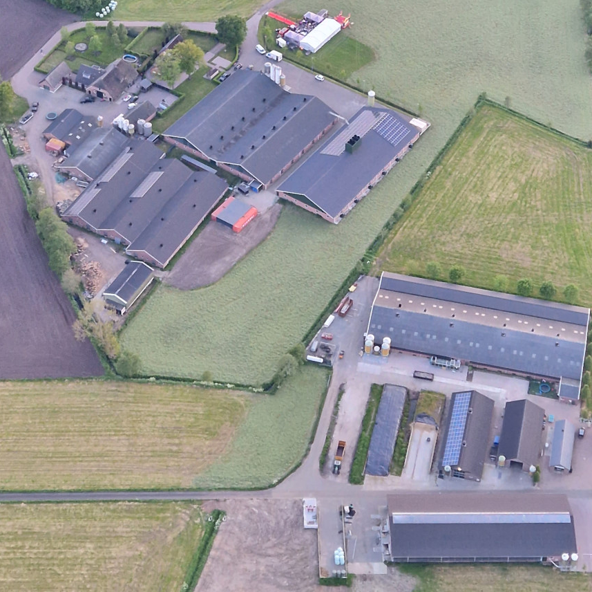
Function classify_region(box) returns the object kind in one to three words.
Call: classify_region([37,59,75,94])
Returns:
building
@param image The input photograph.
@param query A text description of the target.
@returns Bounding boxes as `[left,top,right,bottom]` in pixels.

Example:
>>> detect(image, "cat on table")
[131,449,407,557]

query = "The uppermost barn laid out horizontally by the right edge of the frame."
[364,270,592,381]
